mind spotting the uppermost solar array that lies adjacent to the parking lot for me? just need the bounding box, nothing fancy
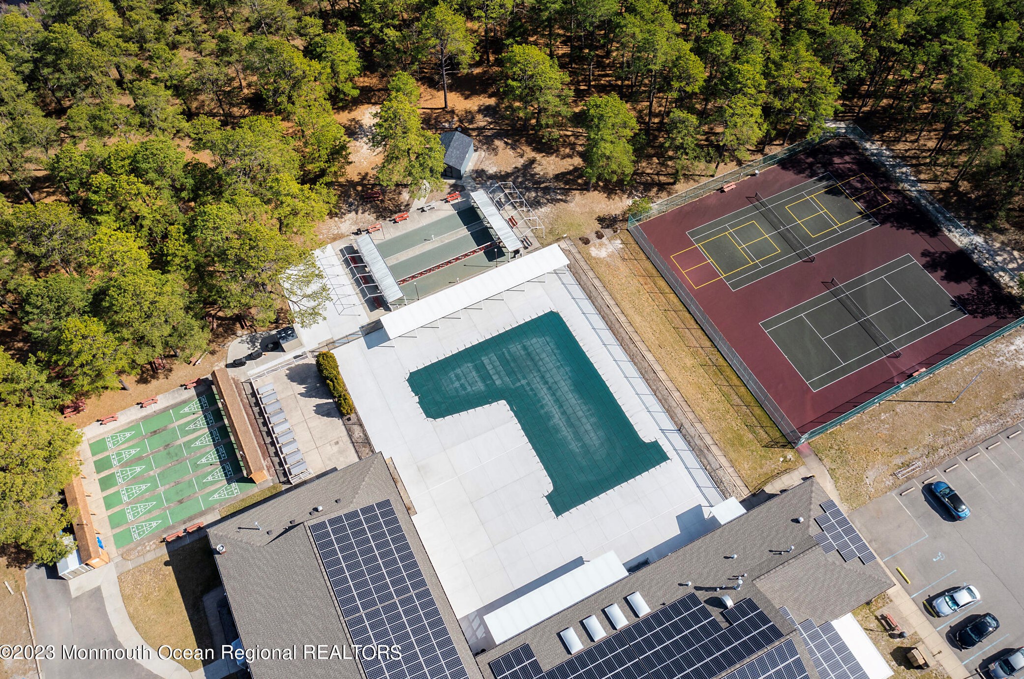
[814,499,878,564]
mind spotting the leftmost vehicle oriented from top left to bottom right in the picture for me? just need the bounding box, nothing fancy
[932,478,974,519]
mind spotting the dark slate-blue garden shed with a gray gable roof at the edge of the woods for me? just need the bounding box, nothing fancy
[438,134,474,179]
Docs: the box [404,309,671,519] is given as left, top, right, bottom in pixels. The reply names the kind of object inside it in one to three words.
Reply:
swimming pool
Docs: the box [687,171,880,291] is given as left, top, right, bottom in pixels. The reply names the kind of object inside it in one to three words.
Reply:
tennis court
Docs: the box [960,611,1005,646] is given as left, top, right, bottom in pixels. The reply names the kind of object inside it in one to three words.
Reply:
car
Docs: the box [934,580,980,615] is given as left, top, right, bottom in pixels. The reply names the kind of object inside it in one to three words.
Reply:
car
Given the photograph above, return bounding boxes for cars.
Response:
[960,611,1005,646]
[932,478,974,519]
[990,643,1024,679]
[934,580,980,615]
